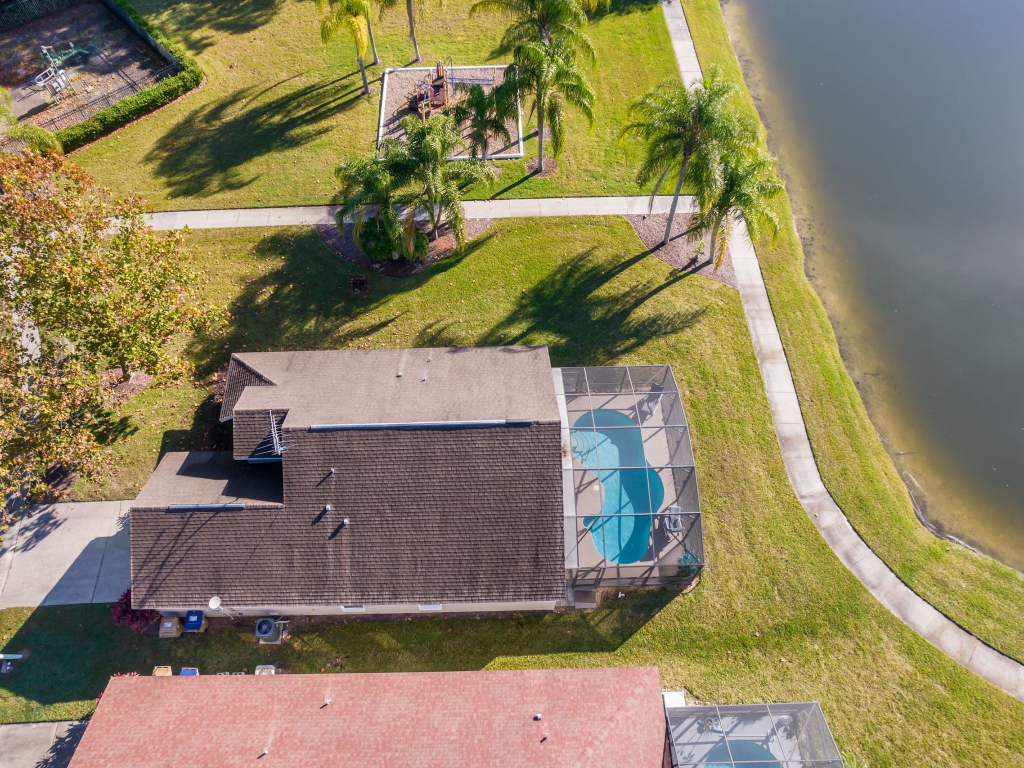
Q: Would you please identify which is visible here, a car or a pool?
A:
pool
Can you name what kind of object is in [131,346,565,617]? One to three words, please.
house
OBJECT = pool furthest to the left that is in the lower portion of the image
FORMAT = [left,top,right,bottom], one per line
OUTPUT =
[571,408,665,565]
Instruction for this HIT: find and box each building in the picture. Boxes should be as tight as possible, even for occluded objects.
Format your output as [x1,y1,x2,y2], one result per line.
[131,346,565,617]
[58,666,679,768]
